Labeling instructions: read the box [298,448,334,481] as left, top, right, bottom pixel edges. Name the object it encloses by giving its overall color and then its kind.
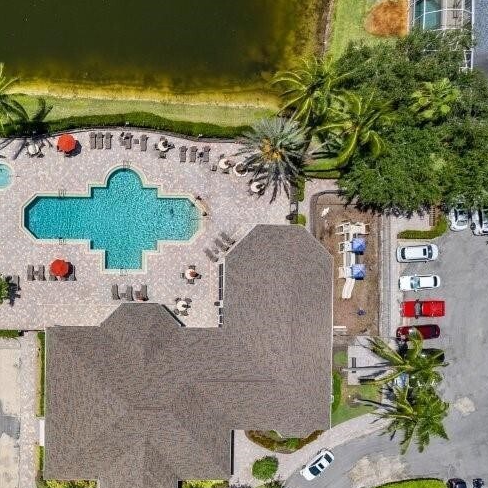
white car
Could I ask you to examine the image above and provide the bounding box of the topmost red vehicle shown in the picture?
[398,300,446,318]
